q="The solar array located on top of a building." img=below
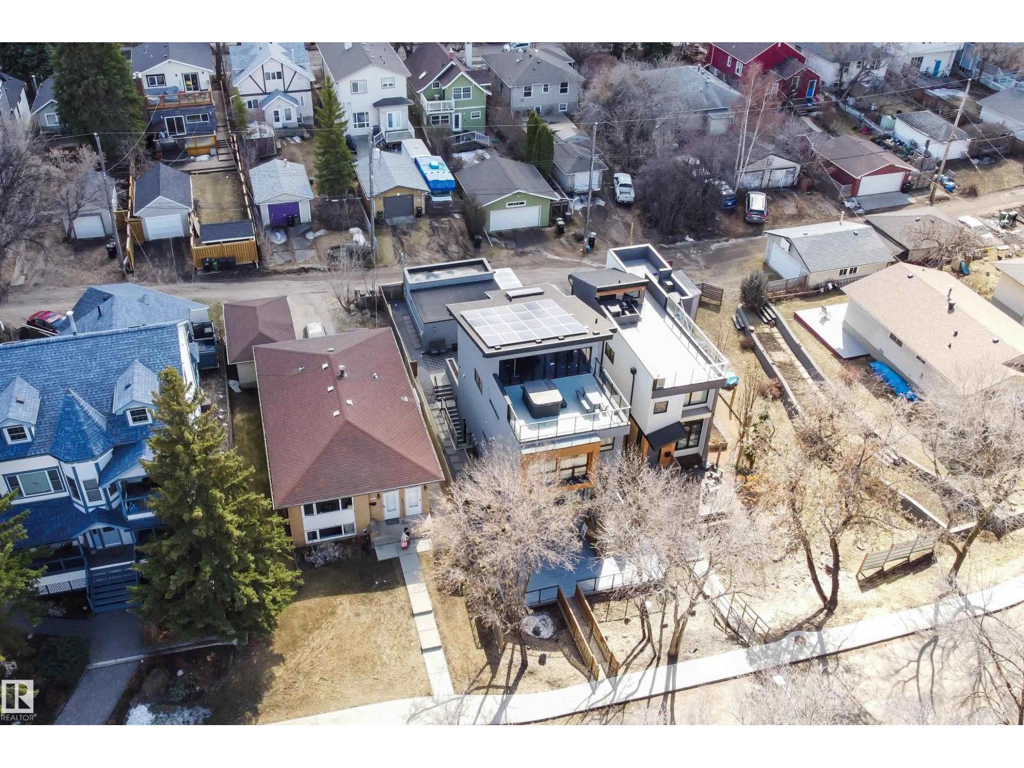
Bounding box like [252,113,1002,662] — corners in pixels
[460,297,589,345]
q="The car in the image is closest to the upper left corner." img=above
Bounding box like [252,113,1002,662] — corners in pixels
[15,297,50,335]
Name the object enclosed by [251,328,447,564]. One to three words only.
house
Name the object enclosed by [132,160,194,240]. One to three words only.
building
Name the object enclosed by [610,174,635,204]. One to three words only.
truck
